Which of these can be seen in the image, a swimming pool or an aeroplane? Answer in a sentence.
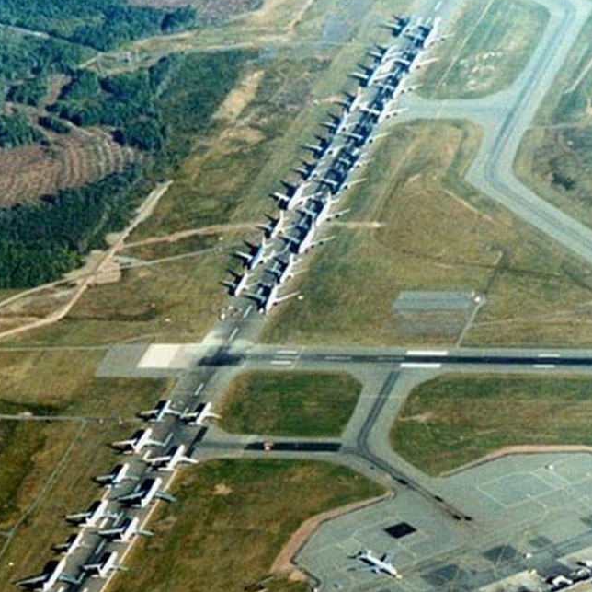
Visible in the photo is an aeroplane.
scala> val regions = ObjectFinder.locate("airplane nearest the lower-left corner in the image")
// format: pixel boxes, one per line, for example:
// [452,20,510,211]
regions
[20,557,80,587]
